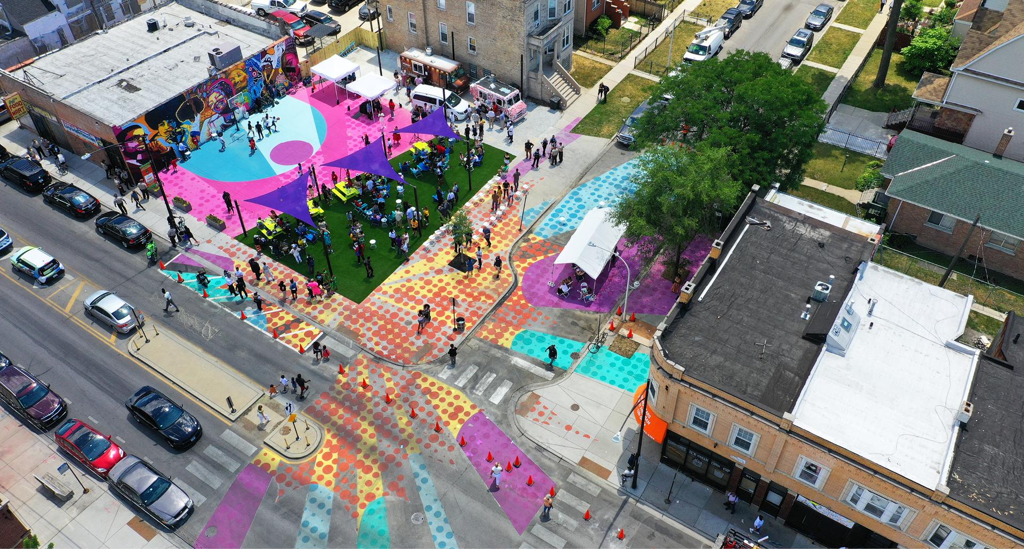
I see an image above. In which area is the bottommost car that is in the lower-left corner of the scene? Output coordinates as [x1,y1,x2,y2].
[107,456,197,531]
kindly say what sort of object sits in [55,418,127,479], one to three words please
car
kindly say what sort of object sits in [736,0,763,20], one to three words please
car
